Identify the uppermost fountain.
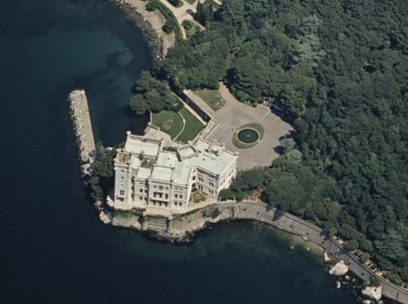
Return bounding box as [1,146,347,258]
[237,126,260,143]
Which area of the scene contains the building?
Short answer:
center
